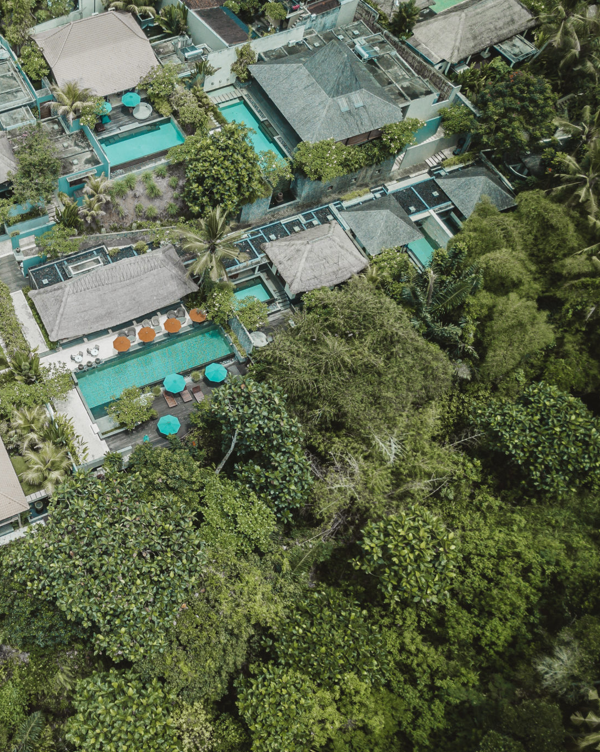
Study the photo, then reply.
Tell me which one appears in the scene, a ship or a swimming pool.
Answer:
swimming pool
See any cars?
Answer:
No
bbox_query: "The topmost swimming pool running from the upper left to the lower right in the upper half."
[215,95,292,181]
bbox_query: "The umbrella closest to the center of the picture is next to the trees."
[205,364,226,385]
